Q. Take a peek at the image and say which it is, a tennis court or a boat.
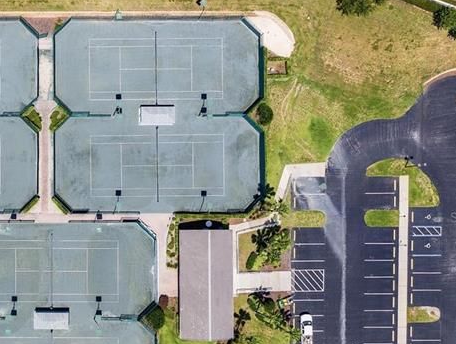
tennis court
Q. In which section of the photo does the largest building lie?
bottom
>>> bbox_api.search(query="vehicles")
[301,315,316,344]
